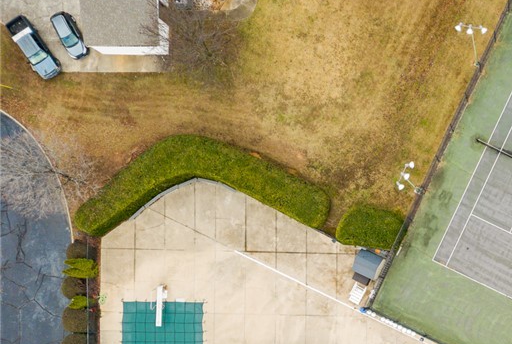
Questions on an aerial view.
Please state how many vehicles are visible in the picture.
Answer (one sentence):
Looking from above, you can make out 2 vehicles.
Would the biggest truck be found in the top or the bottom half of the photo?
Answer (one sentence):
The biggest truck sits in the top half of the picture.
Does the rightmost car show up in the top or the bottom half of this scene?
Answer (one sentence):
The rightmost car is in the top half of the image.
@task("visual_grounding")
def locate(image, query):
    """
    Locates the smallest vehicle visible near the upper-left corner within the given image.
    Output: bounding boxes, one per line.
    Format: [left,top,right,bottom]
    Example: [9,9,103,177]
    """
[47,11,89,61]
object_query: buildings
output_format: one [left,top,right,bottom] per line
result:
[80,0,172,56]
[347,249,383,281]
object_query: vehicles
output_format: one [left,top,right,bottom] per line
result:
[47,11,89,61]
[4,14,62,81]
